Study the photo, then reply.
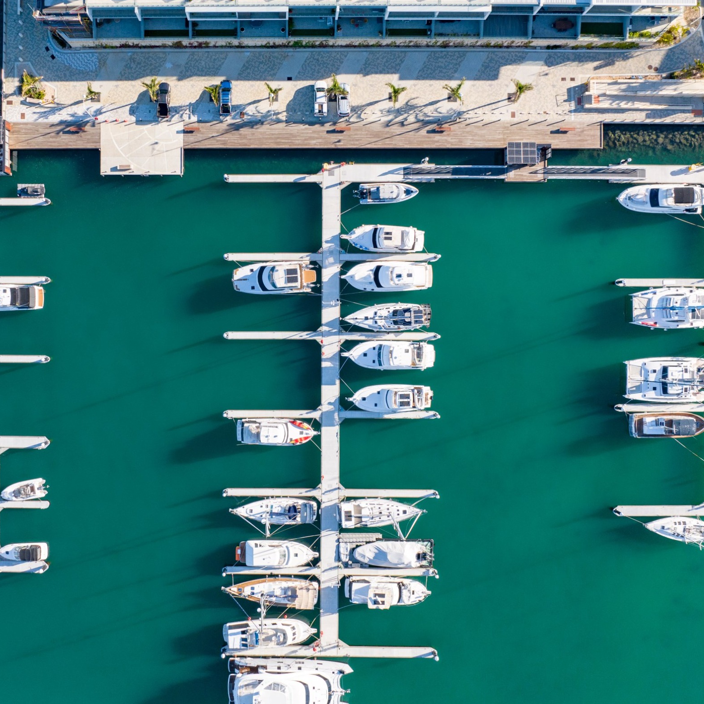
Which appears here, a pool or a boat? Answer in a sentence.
The image shows a boat.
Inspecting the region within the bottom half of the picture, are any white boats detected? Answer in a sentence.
Yes, I can see a white boat within the bottom half of the picture.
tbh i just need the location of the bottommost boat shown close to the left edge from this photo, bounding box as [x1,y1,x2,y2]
[0,540,48,561]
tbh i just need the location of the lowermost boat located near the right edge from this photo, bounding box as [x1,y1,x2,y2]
[625,516,704,552]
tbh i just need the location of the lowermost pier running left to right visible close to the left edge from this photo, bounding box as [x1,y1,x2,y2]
[0,560,49,574]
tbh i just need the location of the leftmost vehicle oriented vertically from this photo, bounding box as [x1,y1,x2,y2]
[156,82,172,119]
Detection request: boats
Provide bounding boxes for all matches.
[340,299,431,334]
[621,354,704,401]
[339,339,435,373]
[233,535,321,568]
[625,412,704,460]
[223,575,321,632]
[628,287,704,330]
[0,285,45,310]
[0,478,49,499]
[233,261,319,295]
[341,223,427,255]
[0,540,48,561]
[289,421,310,430]
[229,496,319,536]
[233,418,321,445]
[340,261,432,295]
[223,616,318,648]
[336,495,427,538]
[25,187,48,195]
[616,184,704,226]
[228,655,354,704]
[341,182,419,215]
[345,383,433,414]
[625,516,704,552]
[340,577,431,610]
